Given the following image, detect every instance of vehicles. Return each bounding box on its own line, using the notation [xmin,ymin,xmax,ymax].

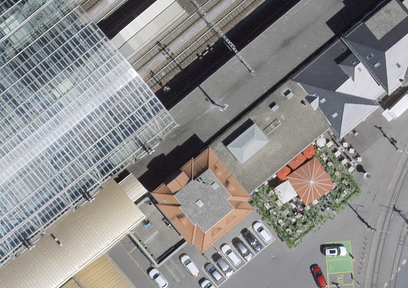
[311,264,328,288]
[179,254,202,279]
[325,246,349,258]
[241,227,266,254]
[252,219,276,246]
[232,236,256,264]
[220,242,244,268]
[204,261,226,286]
[212,252,236,280]
[148,266,170,288]
[200,277,218,288]
[380,90,408,124]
